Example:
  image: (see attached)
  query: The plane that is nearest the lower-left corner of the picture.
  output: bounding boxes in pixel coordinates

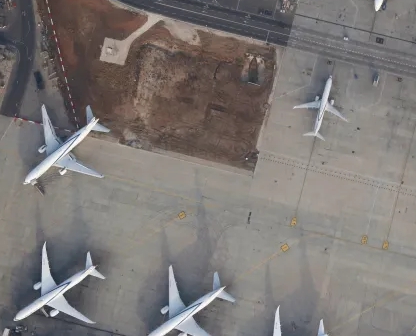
[14,242,105,323]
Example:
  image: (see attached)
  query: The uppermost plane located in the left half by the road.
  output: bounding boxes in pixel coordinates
[24,104,109,184]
